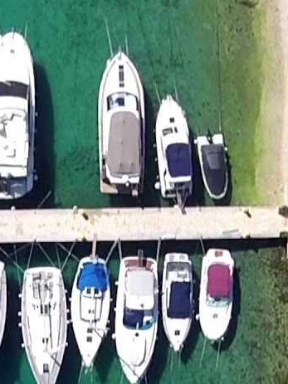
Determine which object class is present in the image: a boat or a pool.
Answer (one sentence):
Of the two, only a boat appears.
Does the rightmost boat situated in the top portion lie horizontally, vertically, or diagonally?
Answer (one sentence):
In this picture, the rightmost boat situated in the top portion lies vertically.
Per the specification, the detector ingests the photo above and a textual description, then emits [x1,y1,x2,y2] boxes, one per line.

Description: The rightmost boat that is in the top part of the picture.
[194,98,230,199]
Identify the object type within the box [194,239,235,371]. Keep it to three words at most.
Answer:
boat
